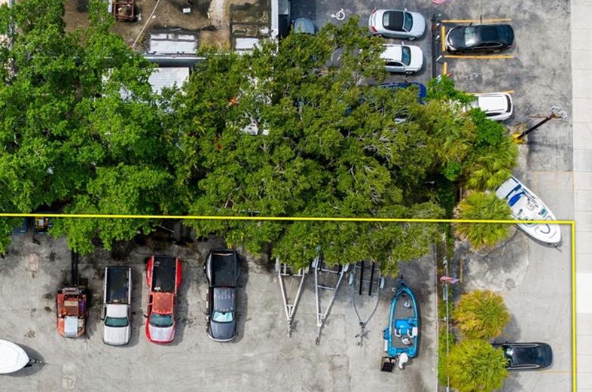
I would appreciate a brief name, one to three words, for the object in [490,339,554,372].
car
